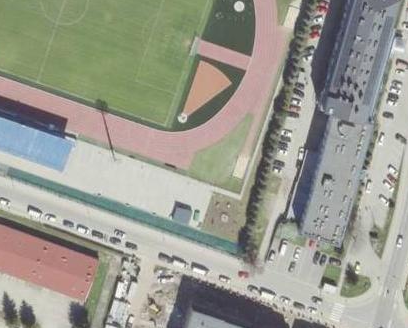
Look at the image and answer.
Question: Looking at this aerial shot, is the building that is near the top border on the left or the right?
right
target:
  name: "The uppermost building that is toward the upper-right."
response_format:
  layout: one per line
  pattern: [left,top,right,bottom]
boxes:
[320,0,402,121]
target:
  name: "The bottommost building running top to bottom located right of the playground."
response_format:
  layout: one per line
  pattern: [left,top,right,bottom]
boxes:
[299,102,371,247]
